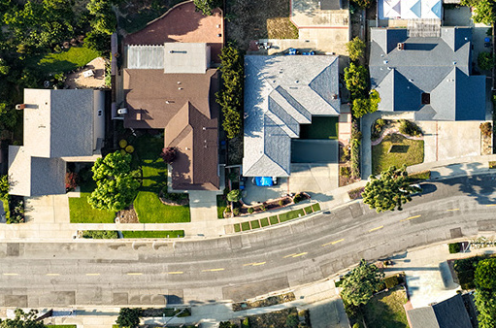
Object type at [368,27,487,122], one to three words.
house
